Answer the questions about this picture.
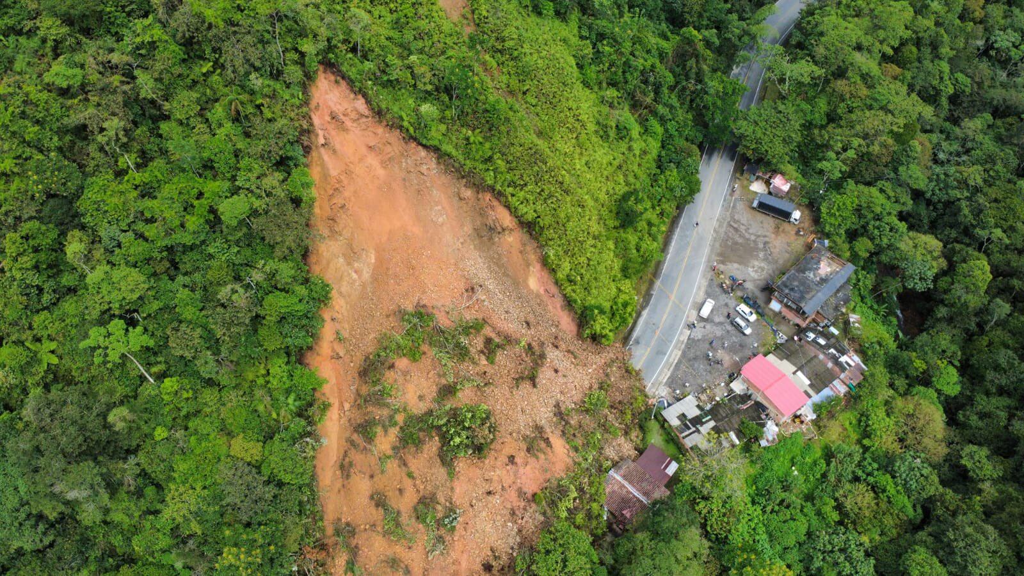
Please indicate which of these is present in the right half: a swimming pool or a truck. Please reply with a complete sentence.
There is a truck in the right half.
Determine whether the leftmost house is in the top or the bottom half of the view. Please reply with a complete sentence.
The leftmost house sits in the bottom half of the picture.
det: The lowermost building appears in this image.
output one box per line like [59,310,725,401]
[604,444,678,526]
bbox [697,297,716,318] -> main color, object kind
white vehicle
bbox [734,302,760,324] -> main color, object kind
white car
